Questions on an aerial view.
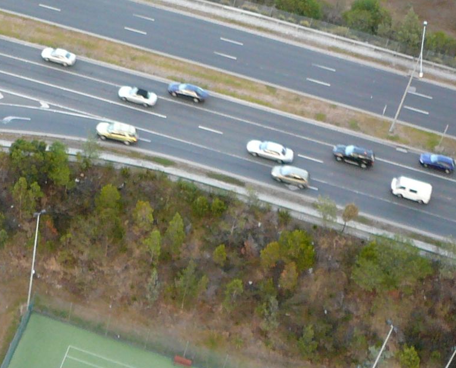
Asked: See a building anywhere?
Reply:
No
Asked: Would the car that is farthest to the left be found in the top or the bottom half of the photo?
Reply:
top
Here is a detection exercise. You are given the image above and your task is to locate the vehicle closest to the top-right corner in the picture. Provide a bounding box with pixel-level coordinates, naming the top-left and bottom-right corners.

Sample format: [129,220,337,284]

[417,153,456,175]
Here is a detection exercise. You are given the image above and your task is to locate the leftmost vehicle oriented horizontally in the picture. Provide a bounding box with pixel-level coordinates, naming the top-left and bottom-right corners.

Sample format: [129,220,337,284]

[39,47,78,67]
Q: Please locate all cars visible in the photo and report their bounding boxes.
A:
[269,166,312,190]
[168,84,206,104]
[417,153,456,175]
[118,87,157,107]
[96,122,137,143]
[331,145,376,168]
[39,47,78,67]
[246,141,292,164]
